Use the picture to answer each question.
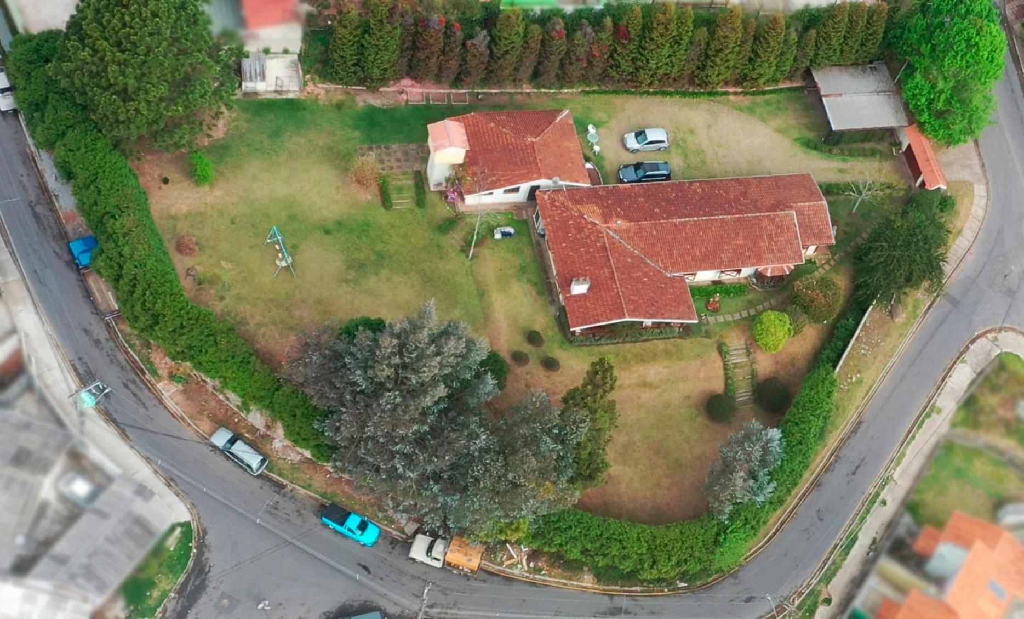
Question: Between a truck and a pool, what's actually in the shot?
truck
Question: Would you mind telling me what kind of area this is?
residential area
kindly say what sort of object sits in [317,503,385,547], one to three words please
truck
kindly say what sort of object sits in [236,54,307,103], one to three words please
shed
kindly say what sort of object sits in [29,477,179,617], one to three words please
house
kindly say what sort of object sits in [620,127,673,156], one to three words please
car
